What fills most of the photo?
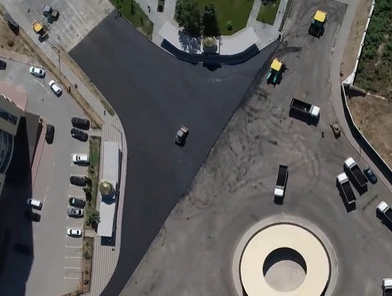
paved ground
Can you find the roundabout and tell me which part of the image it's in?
bottom right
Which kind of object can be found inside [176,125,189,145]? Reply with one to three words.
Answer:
vehicle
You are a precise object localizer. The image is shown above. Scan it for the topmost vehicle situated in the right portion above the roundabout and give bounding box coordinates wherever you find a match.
[289,98,320,118]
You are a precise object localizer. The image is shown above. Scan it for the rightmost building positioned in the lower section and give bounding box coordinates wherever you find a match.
[97,141,119,236]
